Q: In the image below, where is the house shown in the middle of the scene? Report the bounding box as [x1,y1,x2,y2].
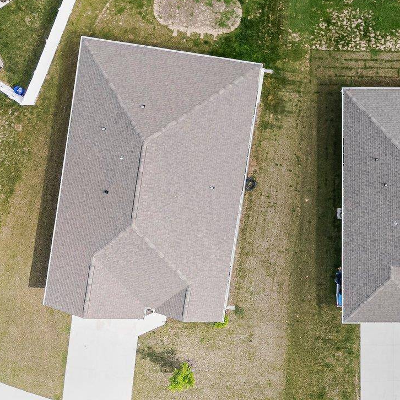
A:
[43,36,273,322]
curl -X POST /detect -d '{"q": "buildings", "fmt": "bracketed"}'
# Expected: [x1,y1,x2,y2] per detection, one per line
[340,87,400,324]
[43,36,273,322]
